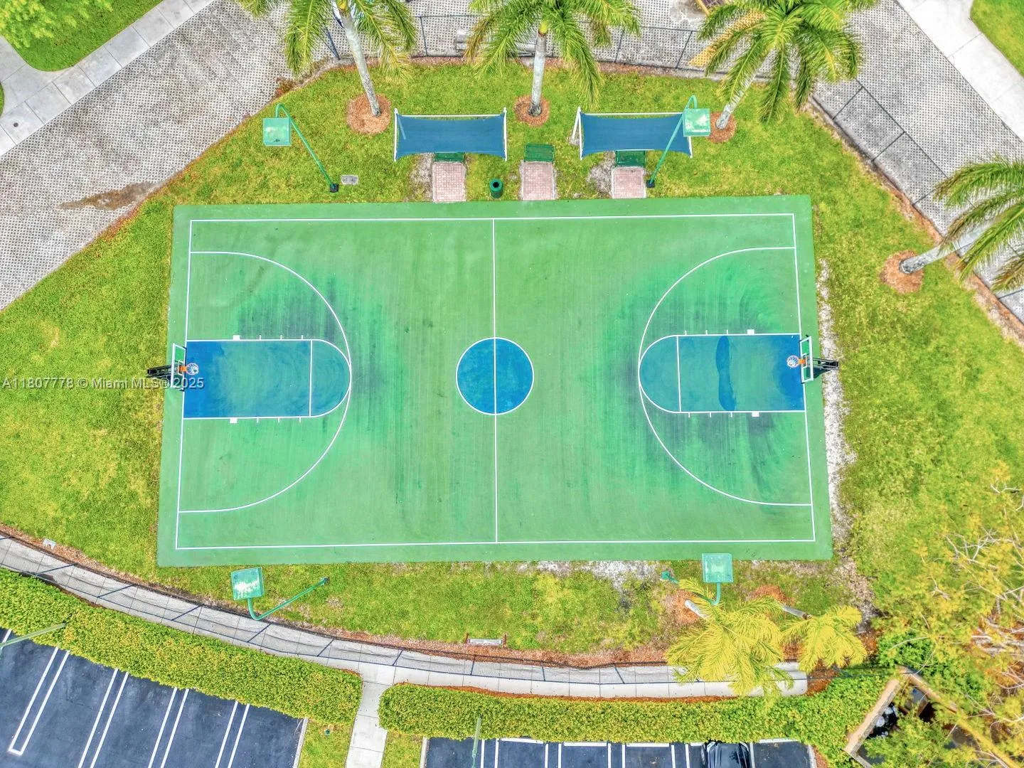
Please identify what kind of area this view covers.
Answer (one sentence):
This image shows a sports ground.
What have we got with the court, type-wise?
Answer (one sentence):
It looks like the court is a basketball court.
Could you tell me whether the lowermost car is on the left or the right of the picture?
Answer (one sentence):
The lowermost car appears in the right half of the scene.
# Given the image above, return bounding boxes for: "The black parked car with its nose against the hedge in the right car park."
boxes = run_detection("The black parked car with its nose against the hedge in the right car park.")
[706,740,754,768]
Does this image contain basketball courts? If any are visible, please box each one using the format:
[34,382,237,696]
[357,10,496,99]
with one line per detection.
[157,196,832,567]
